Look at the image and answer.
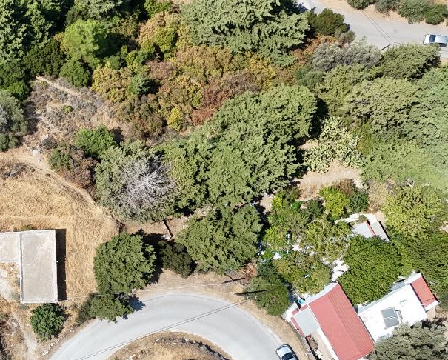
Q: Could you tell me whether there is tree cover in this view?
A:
Yes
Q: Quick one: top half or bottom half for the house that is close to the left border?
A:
bottom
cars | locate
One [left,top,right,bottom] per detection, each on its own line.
[276,344,295,360]
[419,32,448,47]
